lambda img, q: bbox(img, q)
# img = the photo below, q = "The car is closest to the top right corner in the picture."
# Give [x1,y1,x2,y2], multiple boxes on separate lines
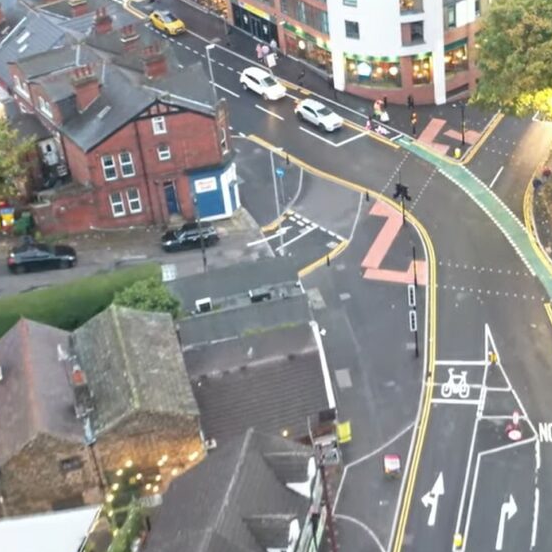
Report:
[290,92,344,128]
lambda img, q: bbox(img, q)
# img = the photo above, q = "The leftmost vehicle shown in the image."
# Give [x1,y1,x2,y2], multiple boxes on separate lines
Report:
[3,240,75,272]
